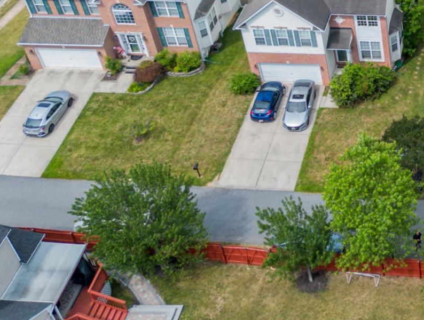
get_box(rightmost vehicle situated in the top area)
[283,80,315,128]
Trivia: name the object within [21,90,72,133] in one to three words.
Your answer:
car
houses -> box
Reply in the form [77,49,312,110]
[0,224,130,320]
[234,0,414,87]
[12,0,233,75]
